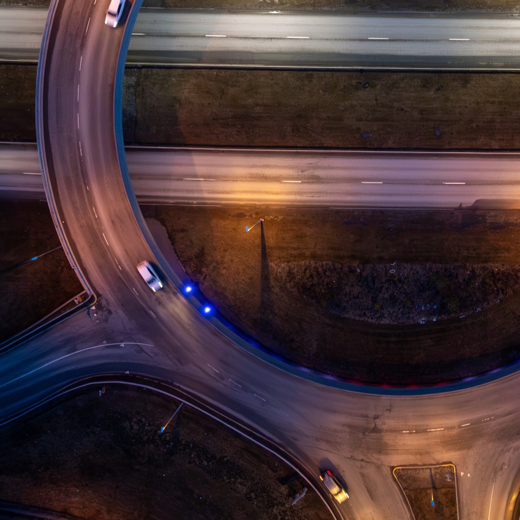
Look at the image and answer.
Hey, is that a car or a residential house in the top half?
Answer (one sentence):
The feature located in the top half is a car.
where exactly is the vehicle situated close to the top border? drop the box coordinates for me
[105,0,125,27]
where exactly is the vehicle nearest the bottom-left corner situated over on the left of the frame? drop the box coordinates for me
[136,259,163,292]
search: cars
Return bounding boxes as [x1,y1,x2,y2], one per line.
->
[105,0,125,27]
[136,259,163,292]
[321,468,348,503]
